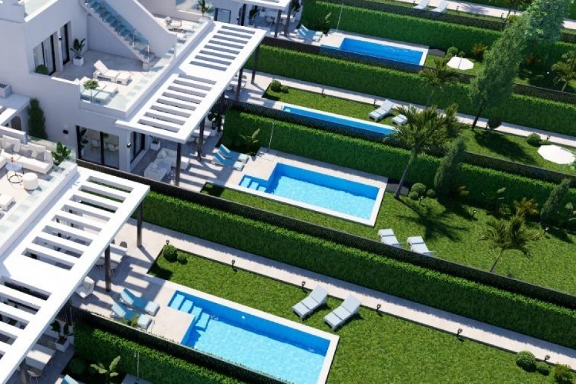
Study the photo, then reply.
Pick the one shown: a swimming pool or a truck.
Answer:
swimming pool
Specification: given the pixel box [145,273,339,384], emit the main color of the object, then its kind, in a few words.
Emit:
blue swimming pool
